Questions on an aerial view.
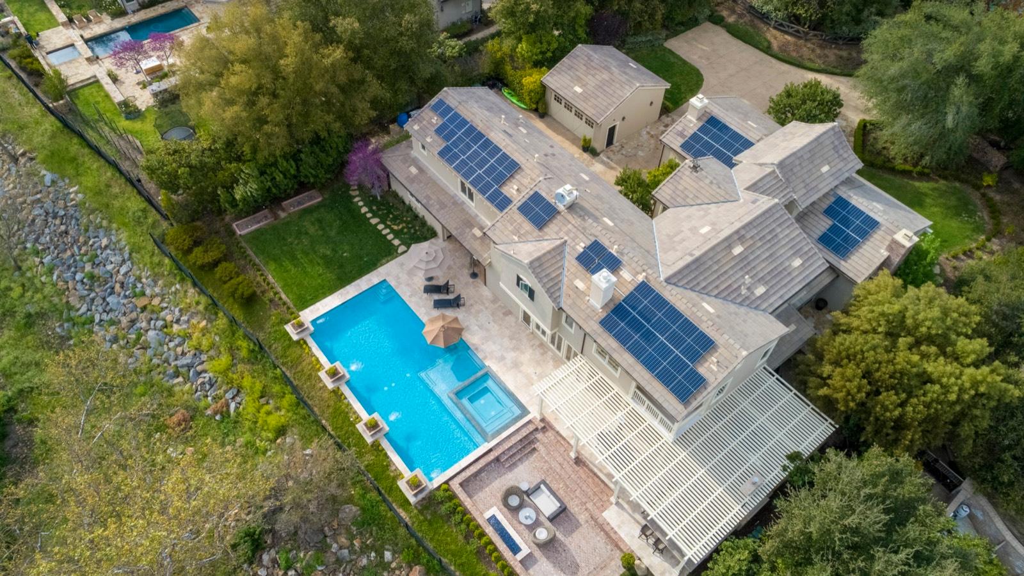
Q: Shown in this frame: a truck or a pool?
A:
pool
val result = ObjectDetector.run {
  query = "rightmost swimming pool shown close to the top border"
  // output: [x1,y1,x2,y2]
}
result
[85,4,204,58]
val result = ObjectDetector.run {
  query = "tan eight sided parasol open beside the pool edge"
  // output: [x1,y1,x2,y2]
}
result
[422,317,466,355]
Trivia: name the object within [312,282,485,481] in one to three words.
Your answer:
swimming pool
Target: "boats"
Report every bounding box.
[503,89,526,108]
